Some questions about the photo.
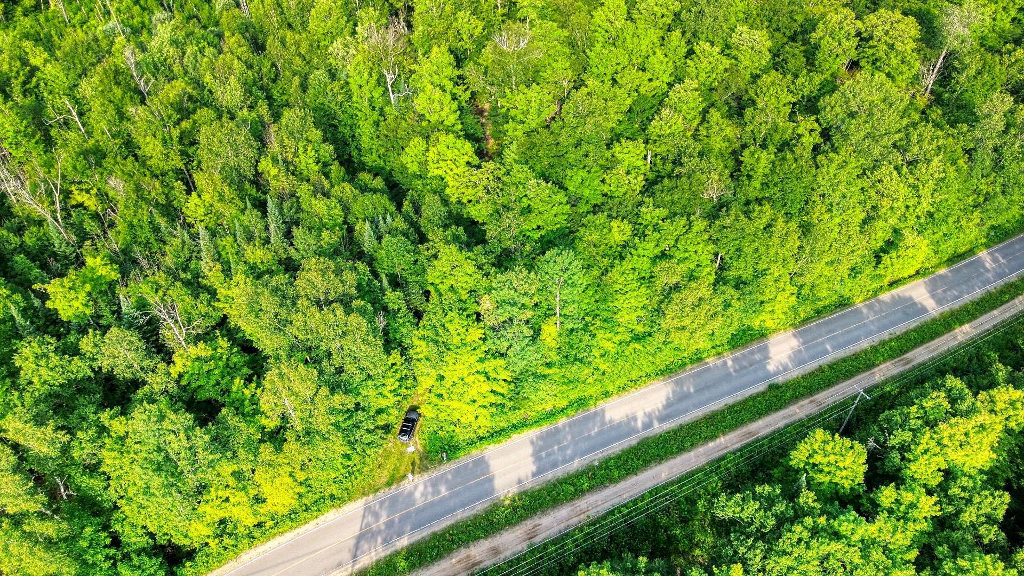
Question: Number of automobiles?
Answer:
1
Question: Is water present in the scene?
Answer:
No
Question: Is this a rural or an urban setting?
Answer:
rural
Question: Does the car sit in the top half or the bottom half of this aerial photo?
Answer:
bottom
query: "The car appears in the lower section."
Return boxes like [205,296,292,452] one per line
[398,410,420,441]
